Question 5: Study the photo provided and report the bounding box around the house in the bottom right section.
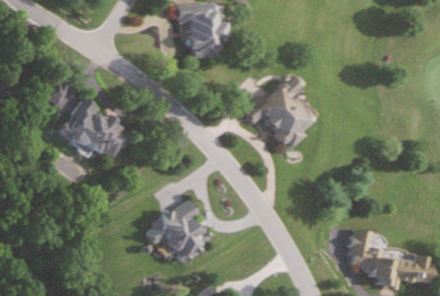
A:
[345,229,436,292]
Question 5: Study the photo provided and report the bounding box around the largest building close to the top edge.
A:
[174,0,232,60]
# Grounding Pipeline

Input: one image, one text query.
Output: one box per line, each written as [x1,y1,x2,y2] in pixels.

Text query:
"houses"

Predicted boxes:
[174,0,232,60]
[247,76,312,151]
[56,98,128,156]
[345,229,436,292]
[144,198,210,264]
